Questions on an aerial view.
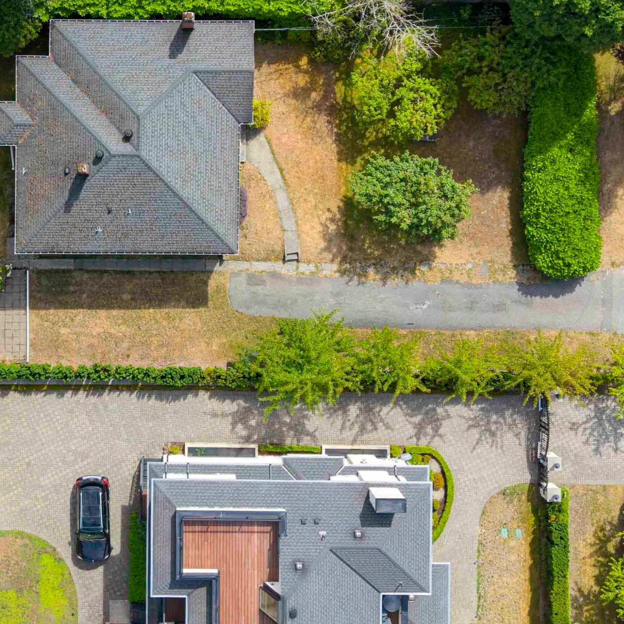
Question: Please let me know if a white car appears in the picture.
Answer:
No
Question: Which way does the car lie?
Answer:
vertically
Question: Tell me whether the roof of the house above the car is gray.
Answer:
Yes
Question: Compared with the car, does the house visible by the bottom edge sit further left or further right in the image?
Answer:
to its right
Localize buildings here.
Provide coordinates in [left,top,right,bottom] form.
[0,9,258,257]
[140,443,454,624]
